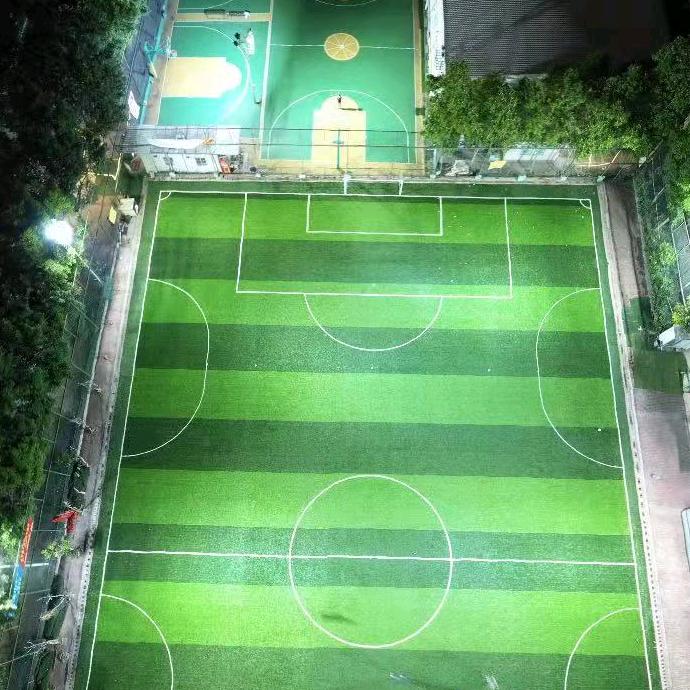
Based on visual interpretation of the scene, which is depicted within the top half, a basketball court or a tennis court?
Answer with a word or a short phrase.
basketball court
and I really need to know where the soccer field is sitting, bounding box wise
[70,177,665,690]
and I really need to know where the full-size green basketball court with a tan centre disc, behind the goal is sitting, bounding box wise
[257,0,429,172]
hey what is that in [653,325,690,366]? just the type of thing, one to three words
shed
